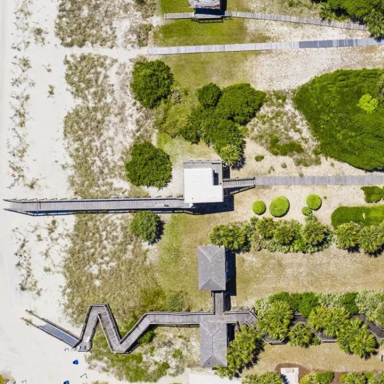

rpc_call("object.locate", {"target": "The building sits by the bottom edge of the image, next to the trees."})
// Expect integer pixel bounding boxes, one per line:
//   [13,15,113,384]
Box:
[200,319,231,368]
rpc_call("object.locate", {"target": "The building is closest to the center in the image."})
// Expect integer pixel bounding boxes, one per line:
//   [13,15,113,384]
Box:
[181,160,232,203]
